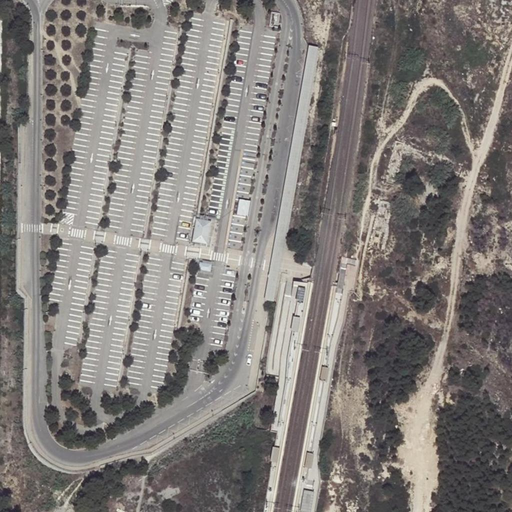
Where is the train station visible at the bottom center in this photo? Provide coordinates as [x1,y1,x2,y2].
[256,242,358,512]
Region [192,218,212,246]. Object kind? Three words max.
building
